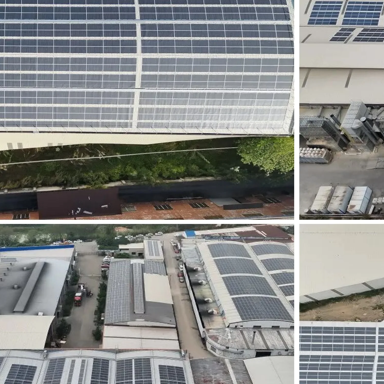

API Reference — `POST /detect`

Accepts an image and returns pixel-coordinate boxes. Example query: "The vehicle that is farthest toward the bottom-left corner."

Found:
[73,278,101,305]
